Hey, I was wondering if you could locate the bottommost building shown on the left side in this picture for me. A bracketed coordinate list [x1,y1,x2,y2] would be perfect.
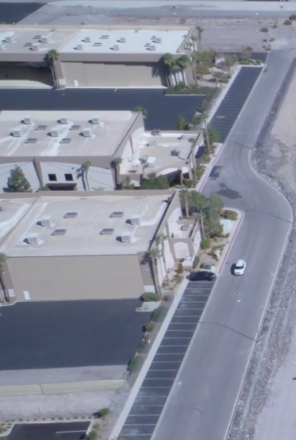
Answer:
[0,189,184,301]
